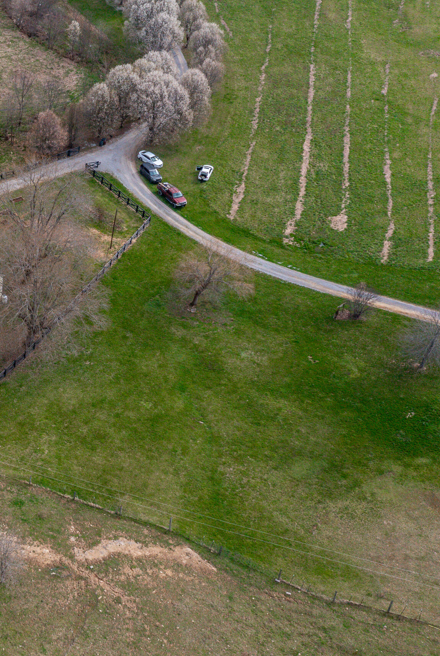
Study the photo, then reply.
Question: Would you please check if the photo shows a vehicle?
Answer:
Yes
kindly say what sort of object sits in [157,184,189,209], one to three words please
truck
